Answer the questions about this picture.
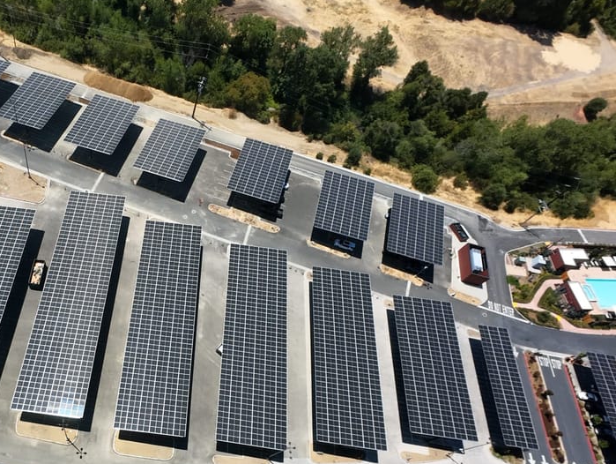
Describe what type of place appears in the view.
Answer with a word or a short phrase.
solar farm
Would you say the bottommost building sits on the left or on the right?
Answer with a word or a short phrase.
right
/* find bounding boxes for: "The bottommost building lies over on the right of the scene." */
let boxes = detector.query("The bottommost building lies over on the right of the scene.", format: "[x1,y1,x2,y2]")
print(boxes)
[556,281,594,315]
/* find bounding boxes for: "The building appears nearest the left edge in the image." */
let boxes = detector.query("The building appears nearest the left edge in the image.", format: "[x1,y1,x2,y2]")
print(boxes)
[455,244,488,291]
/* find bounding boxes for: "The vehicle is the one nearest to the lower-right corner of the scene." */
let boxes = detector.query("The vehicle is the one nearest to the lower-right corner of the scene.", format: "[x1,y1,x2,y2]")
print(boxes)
[593,427,615,440]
